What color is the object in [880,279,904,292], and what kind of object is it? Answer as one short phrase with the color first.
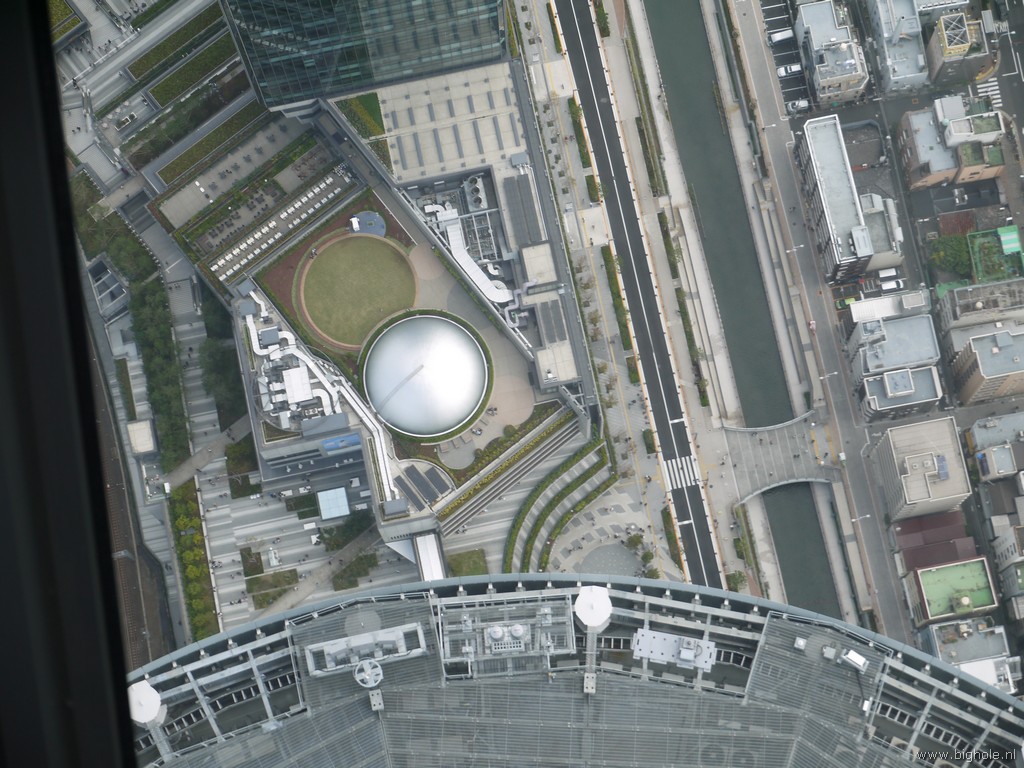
white vehicle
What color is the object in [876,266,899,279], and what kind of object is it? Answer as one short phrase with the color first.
white vehicle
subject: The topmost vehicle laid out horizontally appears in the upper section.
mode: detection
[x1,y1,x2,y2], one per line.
[768,28,794,43]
